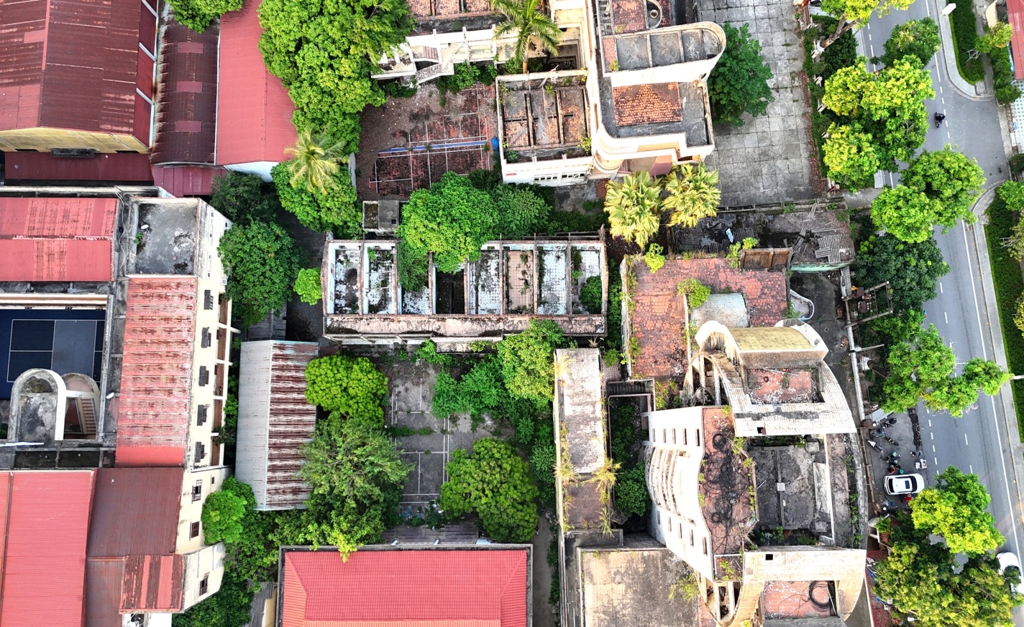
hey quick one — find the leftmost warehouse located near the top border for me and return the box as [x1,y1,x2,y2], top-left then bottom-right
[0,0,165,188]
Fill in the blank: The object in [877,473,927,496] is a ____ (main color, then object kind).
white car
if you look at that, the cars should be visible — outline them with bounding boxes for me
[877,473,927,496]
[994,555,1024,605]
